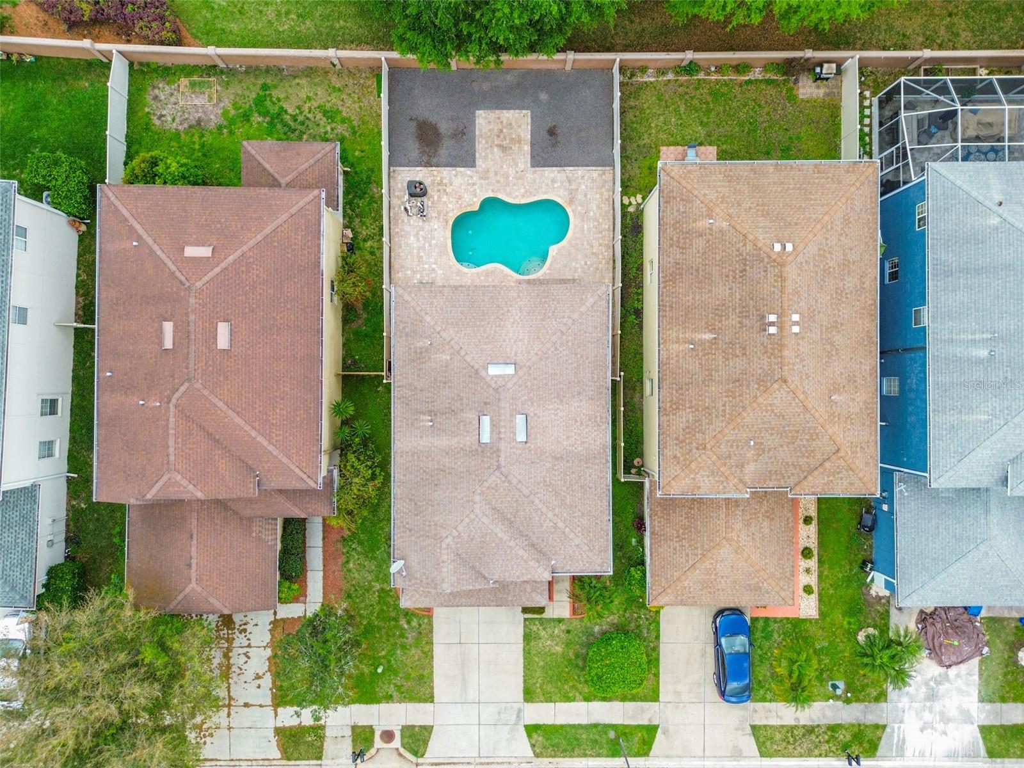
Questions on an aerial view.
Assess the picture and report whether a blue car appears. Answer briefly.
Yes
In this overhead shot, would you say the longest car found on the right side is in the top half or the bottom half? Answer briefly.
bottom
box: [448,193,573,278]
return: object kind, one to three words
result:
swimming pool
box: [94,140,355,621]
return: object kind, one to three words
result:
house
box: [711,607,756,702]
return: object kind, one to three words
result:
car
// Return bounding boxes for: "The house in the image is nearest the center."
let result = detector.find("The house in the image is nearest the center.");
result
[391,283,612,608]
